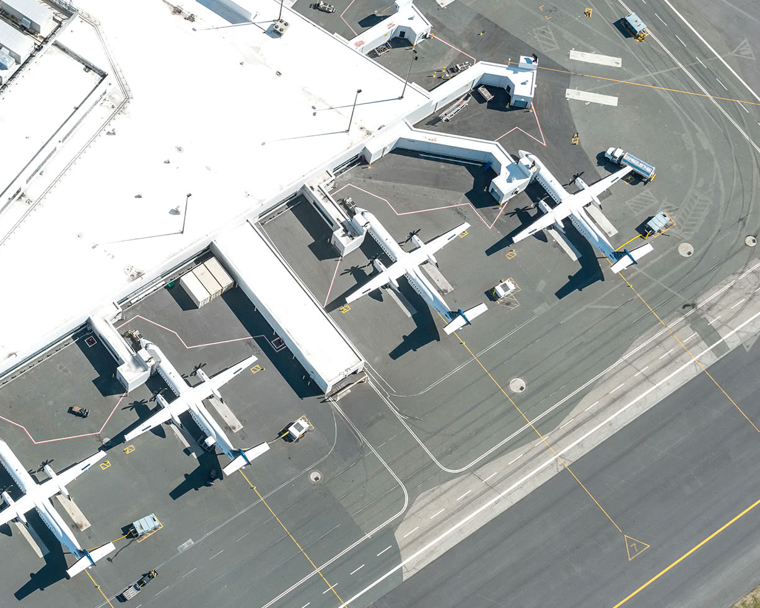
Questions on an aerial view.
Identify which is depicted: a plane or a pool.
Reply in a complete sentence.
The image shows a plane.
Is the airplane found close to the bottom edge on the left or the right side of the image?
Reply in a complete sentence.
You can find the airplane found close to the bottom edge on the left side of the picture.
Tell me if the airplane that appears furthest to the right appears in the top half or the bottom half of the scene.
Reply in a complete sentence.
It is in the top half that the airplane that appears furthest to the right appears.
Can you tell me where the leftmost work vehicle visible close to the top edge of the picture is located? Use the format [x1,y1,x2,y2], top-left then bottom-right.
[315,0,335,14]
